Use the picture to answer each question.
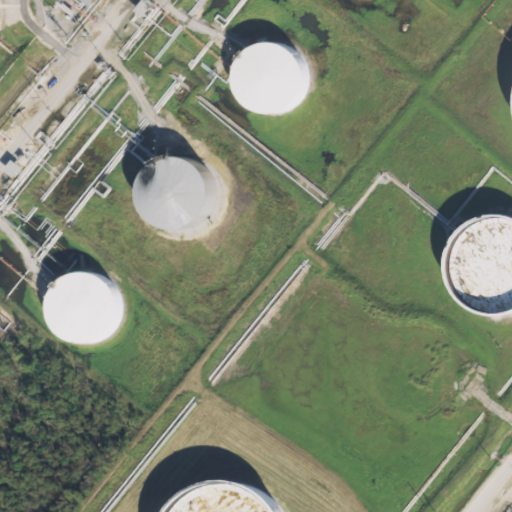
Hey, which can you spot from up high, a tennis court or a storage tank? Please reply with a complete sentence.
This aerial view contains a storage tank.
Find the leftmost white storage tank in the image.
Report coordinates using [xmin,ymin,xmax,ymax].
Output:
[42,270,122,346]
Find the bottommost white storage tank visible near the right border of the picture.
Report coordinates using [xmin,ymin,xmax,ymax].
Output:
[440,213,512,317]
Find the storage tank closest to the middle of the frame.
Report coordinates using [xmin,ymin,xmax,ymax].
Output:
[132,151,218,236]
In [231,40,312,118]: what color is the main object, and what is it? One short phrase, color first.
white storage tank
